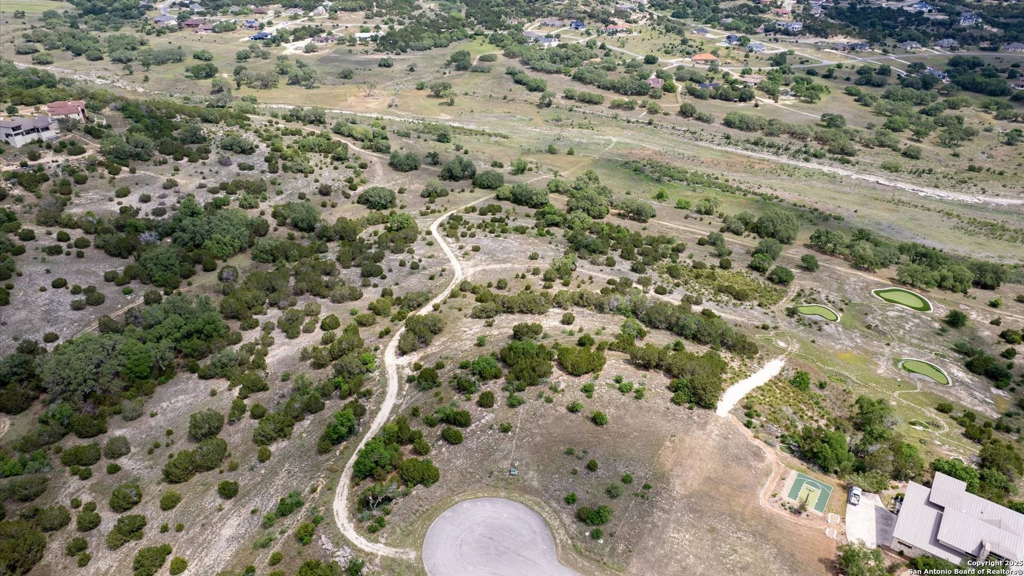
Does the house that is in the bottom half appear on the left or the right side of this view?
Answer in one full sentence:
The house that is in the bottom half is on the right side of the image.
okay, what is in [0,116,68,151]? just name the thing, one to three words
house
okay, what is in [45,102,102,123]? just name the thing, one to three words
house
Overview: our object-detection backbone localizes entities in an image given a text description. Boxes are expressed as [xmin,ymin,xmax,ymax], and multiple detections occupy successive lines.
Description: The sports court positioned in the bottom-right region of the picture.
[788,472,832,512]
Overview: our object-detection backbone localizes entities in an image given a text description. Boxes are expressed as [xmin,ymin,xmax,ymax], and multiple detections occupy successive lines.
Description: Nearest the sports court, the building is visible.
[890,472,1024,576]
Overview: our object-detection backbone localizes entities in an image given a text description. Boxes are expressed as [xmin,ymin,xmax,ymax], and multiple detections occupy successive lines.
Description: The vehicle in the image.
[848,486,861,509]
